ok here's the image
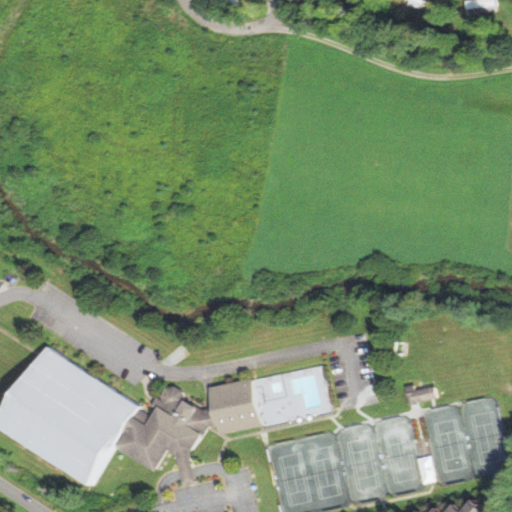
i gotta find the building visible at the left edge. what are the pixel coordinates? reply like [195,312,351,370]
[0,346,144,485]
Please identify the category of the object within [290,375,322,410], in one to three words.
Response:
swimming pool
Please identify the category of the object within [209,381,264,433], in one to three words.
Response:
building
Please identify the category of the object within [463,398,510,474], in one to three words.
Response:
tennis court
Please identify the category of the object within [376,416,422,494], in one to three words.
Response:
tennis court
